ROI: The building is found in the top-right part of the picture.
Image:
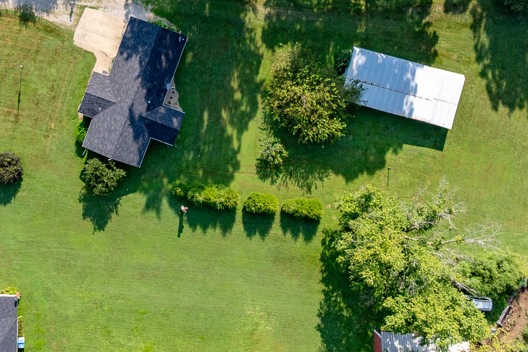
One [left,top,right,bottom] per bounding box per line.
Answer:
[337,47,464,133]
